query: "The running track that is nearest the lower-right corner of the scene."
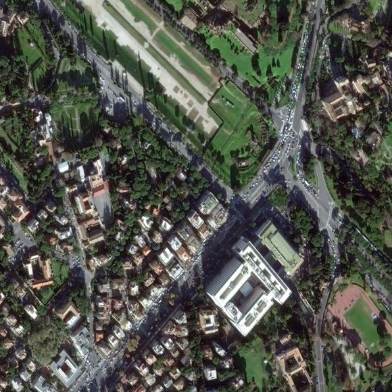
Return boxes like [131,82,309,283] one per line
[329,284,392,368]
